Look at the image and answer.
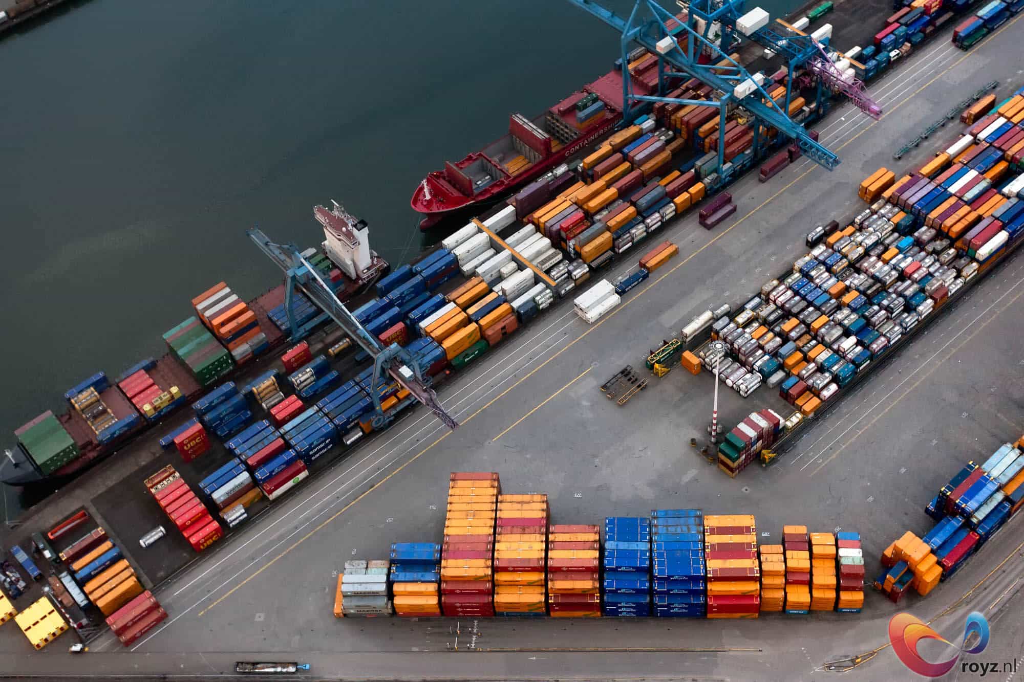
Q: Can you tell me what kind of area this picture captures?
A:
port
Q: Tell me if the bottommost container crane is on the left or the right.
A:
left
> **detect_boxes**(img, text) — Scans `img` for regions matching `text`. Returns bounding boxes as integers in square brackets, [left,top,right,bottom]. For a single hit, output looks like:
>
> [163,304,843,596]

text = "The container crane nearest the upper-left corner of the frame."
[238,224,465,435]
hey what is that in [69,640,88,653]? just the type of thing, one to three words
vehicle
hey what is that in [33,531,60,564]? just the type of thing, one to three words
truck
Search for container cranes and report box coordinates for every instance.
[674,0,884,137]
[561,0,844,188]
[238,224,465,435]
